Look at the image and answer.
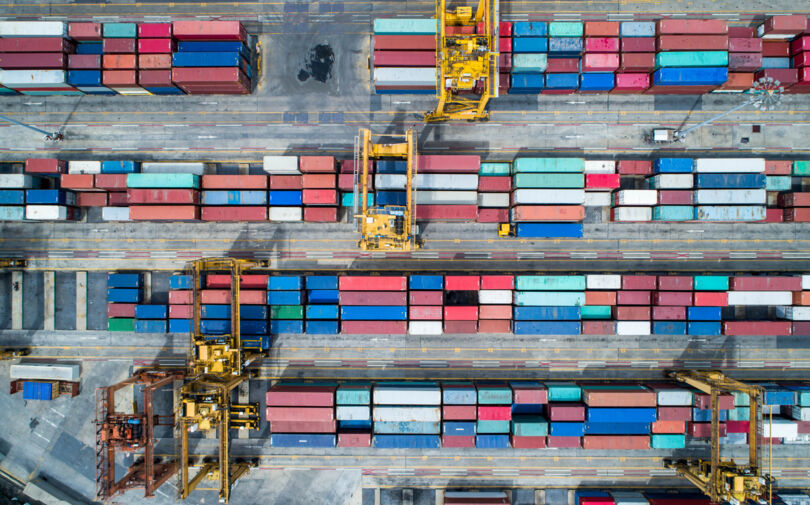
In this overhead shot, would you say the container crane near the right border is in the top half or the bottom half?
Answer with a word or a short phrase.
bottom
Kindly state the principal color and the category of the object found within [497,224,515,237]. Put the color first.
yellow vehicle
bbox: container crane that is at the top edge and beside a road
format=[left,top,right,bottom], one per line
[423,0,499,120]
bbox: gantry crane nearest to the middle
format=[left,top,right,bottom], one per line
[353,128,423,250]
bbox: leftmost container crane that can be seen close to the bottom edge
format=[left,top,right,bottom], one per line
[98,370,200,499]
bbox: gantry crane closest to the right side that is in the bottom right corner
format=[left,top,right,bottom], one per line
[659,373,774,505]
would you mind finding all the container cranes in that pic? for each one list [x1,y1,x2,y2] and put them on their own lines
[187,259,273,377]
[98,370,200,499]
[353,128,423,250]
[659,373,774,505]
[423,0,499,120]
[175,370,263,502]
